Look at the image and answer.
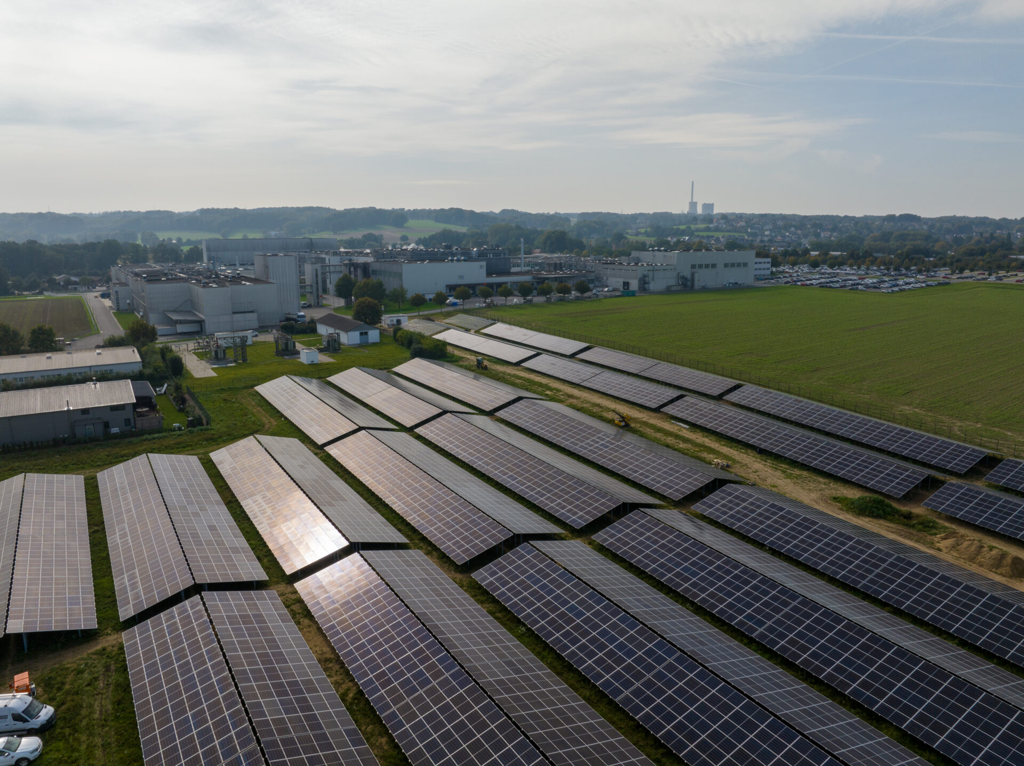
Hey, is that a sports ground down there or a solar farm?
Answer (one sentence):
The area seen from above is a solar farm.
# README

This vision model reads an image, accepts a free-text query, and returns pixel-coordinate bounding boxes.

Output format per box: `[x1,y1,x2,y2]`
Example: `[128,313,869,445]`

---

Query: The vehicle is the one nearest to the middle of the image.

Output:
[472,357,489,372]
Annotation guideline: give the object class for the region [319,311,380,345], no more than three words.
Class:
house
